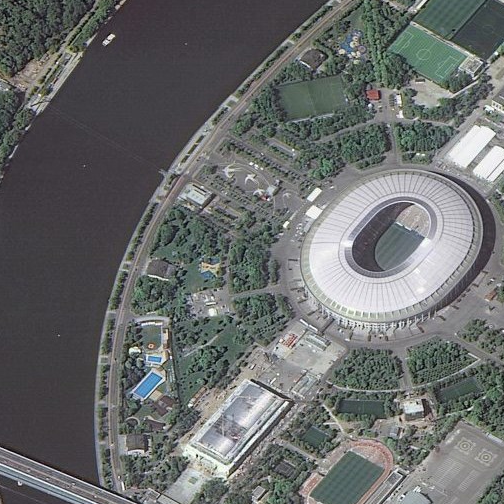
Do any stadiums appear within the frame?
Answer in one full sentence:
Yes, this view includes a stadium.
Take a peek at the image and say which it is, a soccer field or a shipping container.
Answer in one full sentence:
It is a soccer field that can be seen here.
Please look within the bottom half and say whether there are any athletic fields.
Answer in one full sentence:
Yes, I can see an athletic field within the bottom half.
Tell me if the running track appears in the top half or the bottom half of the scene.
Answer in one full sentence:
The running track sits in the bottom half of the picture.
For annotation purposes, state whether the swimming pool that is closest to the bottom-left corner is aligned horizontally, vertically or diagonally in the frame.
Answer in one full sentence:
Seen from above, the swimming pool that is closest to the bottom-left corner lies diagonally.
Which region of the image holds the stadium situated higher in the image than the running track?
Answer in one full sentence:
Look in the right portion of the view to spot the stadium situated higher in the image than the running track.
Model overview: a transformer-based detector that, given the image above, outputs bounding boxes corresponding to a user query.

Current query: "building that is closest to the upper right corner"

[459,56,484,76]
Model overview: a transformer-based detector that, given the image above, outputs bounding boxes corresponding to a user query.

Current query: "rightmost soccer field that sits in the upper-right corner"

[452,0,504,59]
